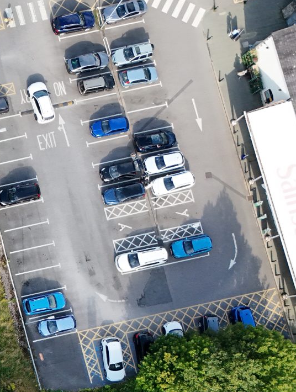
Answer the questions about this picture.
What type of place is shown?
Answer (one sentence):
The area seen from above is a parking lot.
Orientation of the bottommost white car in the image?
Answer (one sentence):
I'd say the bottommost white car is aligned vertically in the picture.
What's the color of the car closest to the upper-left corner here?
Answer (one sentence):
In this view, the car closest to the upper-left corner is blue.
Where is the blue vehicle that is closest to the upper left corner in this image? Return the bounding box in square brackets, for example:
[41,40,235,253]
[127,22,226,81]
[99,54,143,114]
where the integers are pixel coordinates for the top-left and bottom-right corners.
[51,8,98,36]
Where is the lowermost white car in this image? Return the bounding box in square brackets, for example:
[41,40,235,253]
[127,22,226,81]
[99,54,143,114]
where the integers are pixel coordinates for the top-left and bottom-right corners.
[100,337,126,382]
